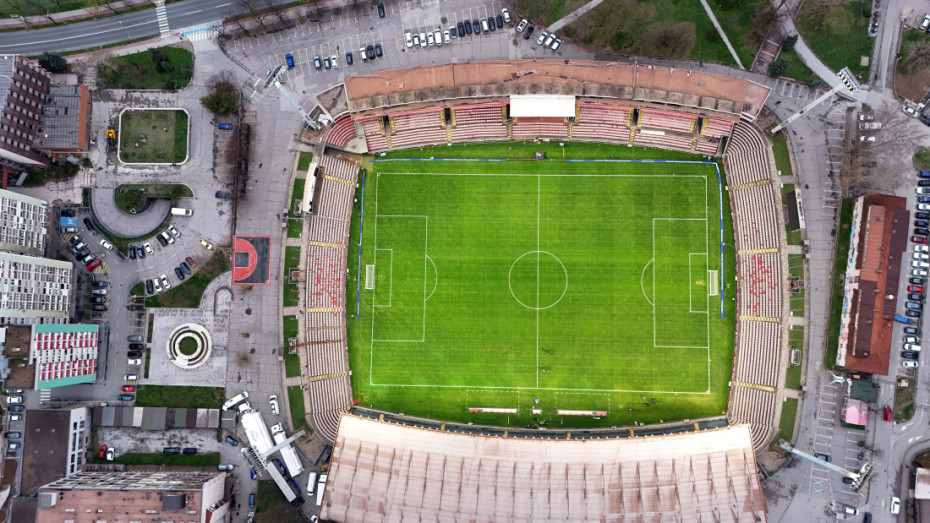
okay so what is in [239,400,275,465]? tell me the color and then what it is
white truck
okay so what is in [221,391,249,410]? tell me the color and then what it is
white vehicle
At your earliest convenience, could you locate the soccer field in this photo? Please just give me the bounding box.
[349,140,736,427]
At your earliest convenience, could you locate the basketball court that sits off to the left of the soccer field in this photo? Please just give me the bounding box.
[233,236,272,285]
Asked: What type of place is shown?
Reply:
sports ground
